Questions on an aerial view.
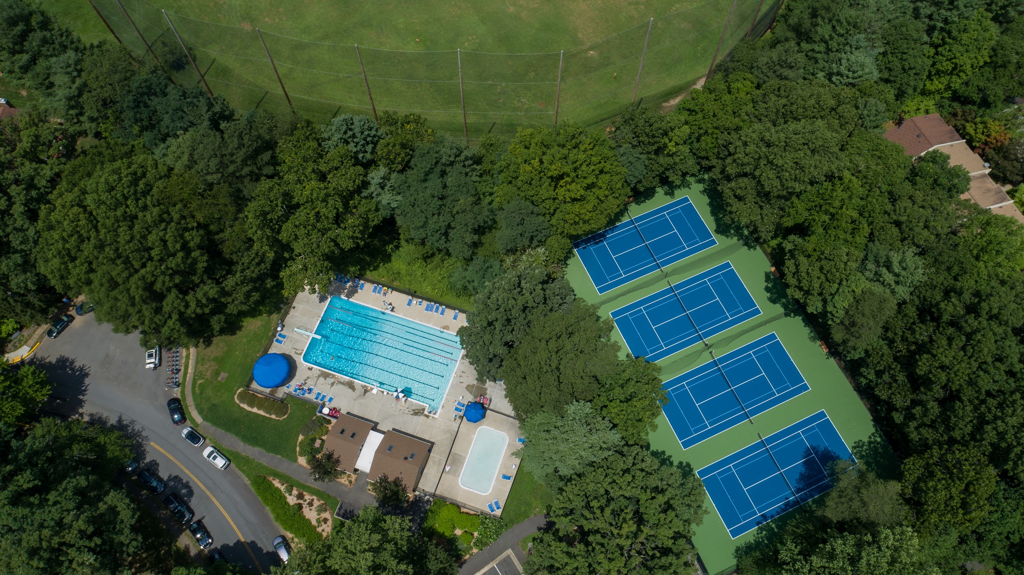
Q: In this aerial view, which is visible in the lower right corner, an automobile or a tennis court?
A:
tennis court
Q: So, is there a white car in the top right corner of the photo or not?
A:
No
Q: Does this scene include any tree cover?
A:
Yes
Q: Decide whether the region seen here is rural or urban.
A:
rural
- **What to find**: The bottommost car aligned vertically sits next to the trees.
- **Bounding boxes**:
[273,532,289,564]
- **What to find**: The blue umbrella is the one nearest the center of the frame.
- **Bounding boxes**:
[463,403,485,425]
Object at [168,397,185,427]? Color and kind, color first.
black car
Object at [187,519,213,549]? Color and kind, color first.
black car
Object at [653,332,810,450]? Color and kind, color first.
blue tennis court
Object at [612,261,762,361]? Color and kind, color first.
blue tennis court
